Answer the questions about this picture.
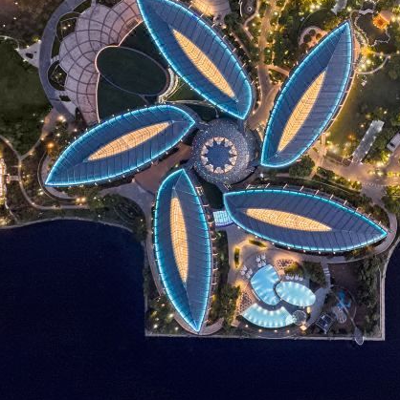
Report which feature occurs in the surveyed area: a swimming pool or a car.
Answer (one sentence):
Looking from above, you can make out a swimming pool.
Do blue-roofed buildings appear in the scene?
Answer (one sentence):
Yes, this view includes a blue-roofed building.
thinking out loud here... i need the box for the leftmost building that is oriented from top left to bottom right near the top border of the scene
[133,0,255,122]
